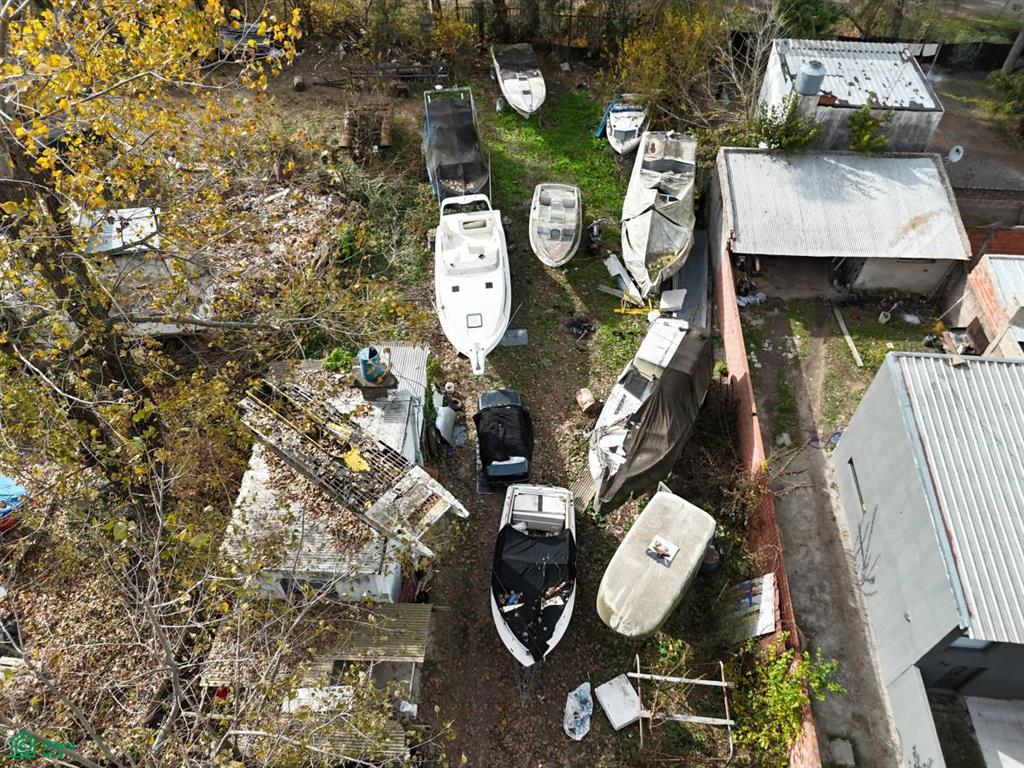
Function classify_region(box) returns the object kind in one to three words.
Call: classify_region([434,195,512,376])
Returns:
boat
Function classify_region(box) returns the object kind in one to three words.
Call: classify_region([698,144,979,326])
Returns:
building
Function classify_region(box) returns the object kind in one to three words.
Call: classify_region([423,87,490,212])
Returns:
boat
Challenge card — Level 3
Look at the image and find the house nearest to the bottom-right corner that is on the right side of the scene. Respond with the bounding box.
[833,342,1024,692]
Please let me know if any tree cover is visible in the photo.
Yes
